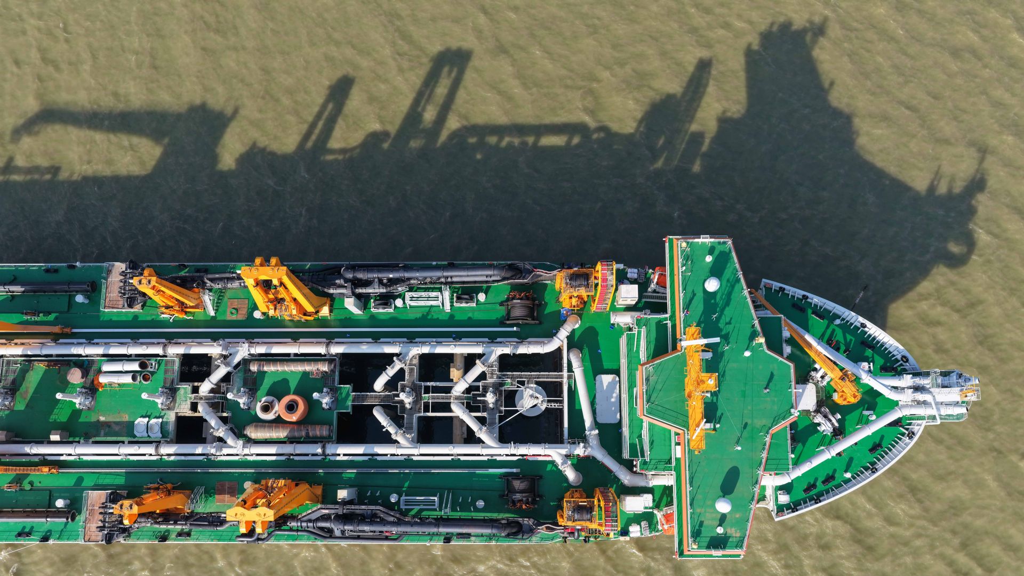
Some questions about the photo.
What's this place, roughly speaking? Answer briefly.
port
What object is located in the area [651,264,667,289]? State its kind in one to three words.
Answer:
boat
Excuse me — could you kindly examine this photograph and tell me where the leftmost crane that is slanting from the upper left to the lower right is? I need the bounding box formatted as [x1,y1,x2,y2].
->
[134,268,212,323]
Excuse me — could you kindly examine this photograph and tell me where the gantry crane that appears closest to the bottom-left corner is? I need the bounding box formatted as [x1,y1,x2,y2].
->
[114,478,198,527]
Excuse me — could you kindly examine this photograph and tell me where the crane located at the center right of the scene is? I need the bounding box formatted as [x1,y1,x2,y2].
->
[750,287,876,410]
